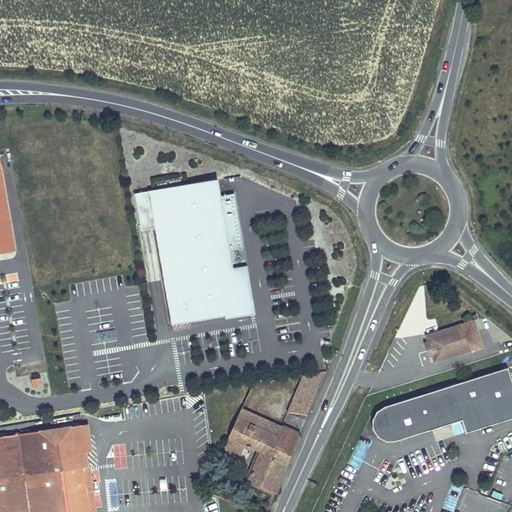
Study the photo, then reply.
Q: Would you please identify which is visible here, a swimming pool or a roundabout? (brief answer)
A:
roundabout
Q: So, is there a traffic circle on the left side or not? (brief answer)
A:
No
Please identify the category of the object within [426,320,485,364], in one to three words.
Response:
house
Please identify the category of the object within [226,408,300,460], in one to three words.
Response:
house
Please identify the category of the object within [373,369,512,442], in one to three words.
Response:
building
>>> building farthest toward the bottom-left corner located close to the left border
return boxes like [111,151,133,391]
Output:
[0,425,97,512]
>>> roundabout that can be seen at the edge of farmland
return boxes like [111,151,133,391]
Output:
[334,114,480,311]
